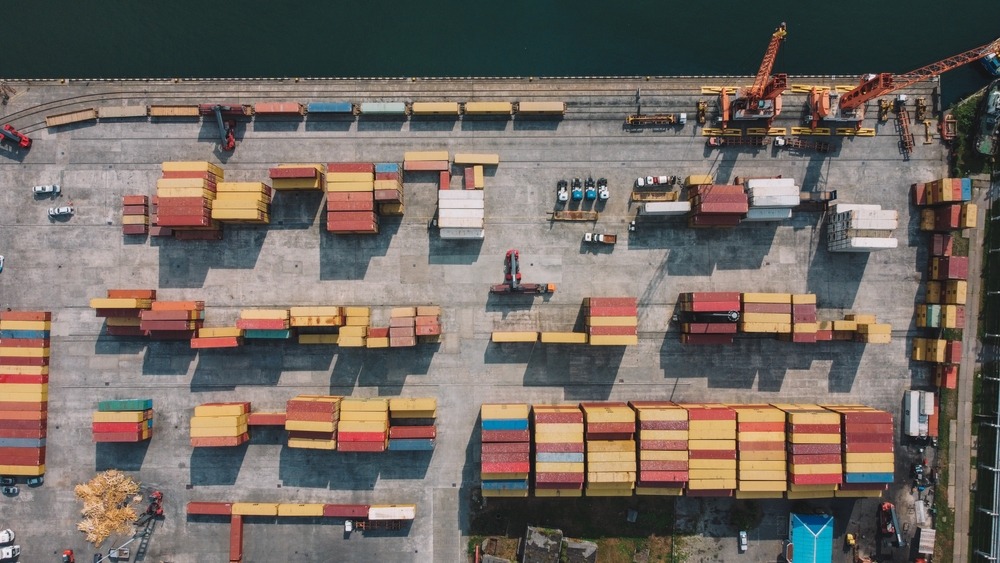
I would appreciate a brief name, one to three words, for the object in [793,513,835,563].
building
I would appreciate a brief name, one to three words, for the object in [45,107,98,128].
rail car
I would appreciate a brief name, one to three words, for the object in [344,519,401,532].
vehicle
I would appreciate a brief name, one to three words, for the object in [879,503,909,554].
work vehicle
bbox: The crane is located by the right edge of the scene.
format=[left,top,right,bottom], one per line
[791,36,1000,136]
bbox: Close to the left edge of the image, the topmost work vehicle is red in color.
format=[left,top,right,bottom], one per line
[0,123,30,148]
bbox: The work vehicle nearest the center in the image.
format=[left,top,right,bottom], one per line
[506,249,521,290]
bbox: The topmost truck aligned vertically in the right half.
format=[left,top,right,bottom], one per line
[896,95,920,158]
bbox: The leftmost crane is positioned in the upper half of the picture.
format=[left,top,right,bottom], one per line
[699,29,789,136]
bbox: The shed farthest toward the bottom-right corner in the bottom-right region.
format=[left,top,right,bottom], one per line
[911,525,936,554]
